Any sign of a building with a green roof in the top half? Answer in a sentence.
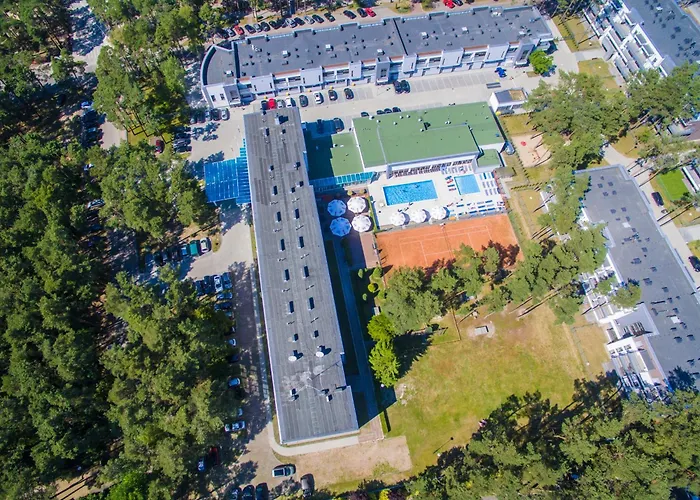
Yes, you'll find a building with a green roof in the top half.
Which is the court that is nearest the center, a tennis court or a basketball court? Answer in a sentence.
Looking closely, the court that is nearest the center is a tennis court.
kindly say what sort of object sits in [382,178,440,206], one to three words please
swimming pool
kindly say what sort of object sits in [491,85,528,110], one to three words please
building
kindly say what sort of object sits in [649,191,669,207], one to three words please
car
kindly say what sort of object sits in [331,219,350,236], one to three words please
umbrella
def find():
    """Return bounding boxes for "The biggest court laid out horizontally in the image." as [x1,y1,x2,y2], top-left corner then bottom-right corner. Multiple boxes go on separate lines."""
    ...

[375,213,530,295]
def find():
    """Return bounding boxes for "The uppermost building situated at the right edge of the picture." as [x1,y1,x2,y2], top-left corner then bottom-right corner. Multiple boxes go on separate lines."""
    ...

[570,0,700,84]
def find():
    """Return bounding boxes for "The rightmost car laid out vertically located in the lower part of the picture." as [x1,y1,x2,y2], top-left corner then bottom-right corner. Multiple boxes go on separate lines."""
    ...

[300,469,315,499]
